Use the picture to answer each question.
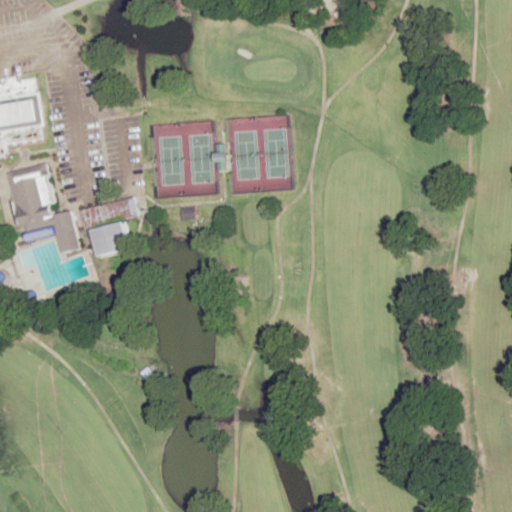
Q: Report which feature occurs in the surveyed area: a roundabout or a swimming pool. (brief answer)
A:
swimming pool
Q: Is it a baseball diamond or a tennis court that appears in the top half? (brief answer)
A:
tennis court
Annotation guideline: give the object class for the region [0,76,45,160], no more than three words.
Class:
building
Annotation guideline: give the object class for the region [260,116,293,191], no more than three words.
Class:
tennis court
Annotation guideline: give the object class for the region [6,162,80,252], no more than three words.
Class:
building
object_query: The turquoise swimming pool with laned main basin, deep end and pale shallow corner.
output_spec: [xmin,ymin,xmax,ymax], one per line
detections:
[19,240,90,292]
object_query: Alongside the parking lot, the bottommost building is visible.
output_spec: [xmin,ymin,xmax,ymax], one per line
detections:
[88,221,128,257]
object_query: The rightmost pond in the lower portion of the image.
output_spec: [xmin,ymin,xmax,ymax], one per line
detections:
[146,236,218,510]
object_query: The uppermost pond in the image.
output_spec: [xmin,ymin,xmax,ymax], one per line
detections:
[102,0,192,96]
